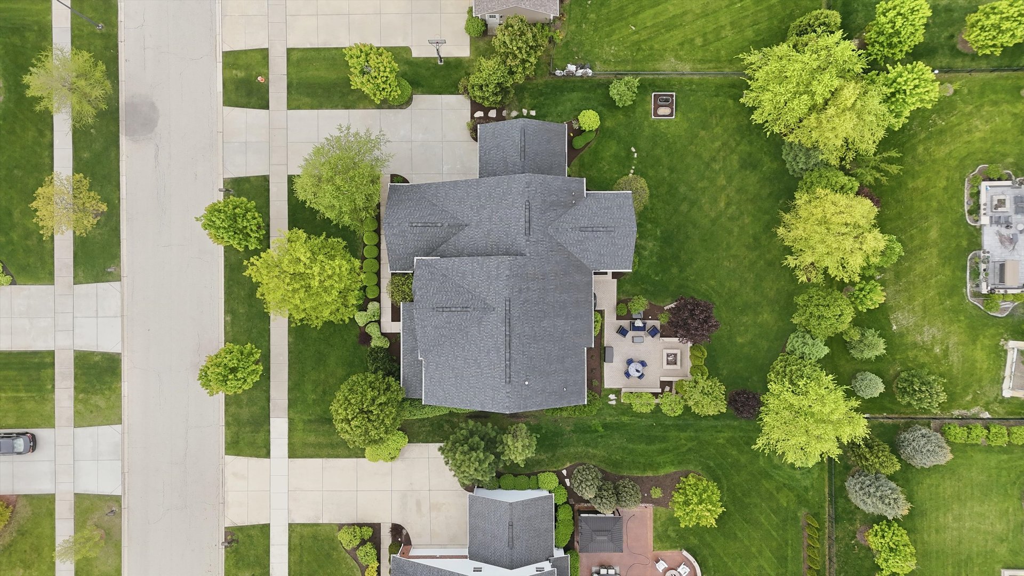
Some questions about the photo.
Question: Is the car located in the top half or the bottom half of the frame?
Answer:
bottom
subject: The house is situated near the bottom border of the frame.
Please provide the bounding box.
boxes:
[389,488,571,576]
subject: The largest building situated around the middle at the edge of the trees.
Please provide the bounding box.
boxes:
[383,117,637,414]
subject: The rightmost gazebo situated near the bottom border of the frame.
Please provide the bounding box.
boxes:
[577,510,623,554]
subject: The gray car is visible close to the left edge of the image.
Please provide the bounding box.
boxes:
[0,431,36,456]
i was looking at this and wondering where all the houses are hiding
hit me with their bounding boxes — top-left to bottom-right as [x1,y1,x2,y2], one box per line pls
[389,488,571,576]
[471,0,560,24]
[383,117,637,414]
